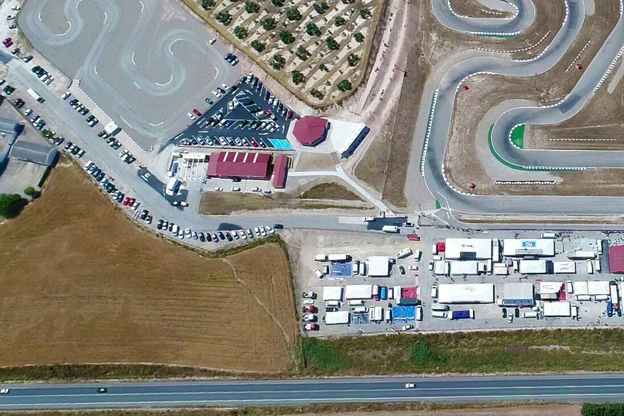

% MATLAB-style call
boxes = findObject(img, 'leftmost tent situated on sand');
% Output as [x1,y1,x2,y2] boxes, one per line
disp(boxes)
[368,257,389,276]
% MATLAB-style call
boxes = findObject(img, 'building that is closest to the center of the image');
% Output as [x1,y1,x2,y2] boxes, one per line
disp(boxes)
[273,156,289,190]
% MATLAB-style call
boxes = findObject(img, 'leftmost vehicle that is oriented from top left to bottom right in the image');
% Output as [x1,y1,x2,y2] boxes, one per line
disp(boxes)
[28,89,46,103]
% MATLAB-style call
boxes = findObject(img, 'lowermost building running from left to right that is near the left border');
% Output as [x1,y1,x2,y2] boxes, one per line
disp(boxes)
[9,141,62,170]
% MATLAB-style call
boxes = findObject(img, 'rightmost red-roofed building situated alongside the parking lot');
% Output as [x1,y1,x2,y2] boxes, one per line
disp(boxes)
[293,113,329,146]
